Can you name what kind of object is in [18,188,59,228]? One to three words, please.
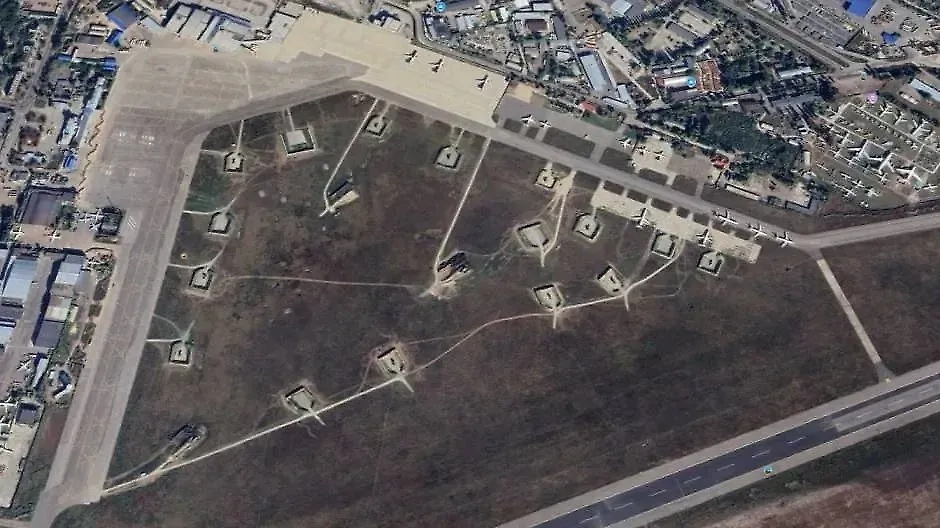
hangar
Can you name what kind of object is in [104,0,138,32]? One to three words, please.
building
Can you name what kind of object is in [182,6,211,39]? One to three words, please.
hangar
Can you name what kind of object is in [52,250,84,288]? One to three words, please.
building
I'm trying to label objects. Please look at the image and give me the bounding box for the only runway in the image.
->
[498,361,940,528]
